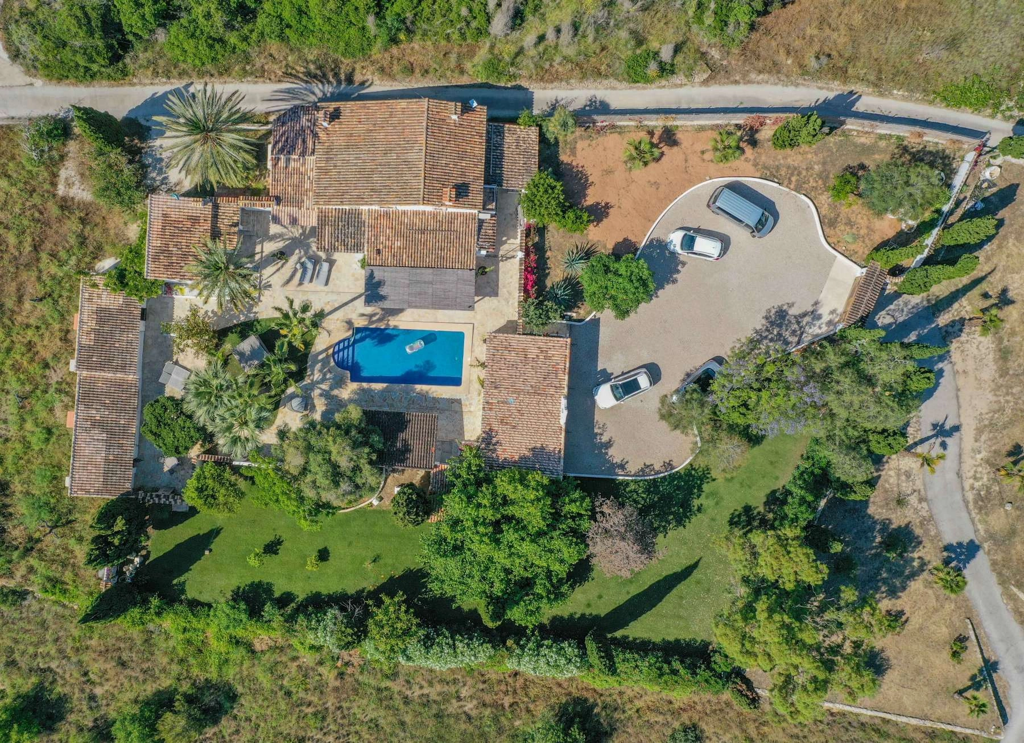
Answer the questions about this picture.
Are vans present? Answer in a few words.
Yes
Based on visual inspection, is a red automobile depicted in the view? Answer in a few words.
No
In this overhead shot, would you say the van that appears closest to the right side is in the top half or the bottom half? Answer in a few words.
top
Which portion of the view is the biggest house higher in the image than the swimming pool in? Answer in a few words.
top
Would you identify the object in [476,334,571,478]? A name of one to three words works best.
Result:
building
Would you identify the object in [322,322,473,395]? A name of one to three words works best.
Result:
swimming pool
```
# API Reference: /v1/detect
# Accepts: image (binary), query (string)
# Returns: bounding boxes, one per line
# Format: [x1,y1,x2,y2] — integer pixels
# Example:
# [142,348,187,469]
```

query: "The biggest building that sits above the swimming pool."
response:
[270,96,539,270]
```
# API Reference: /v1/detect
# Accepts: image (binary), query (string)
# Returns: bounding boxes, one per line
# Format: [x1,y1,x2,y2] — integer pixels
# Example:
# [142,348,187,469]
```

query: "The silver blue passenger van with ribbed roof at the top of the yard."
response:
[705,186,773,240]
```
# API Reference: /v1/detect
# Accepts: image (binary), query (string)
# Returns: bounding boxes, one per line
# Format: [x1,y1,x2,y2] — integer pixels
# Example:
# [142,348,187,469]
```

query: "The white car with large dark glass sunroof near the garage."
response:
[592,367,653,409]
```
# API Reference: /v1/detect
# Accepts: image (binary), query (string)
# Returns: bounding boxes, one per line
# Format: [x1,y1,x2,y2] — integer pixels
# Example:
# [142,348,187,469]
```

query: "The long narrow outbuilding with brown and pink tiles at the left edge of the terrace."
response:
[65,275,148,497]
